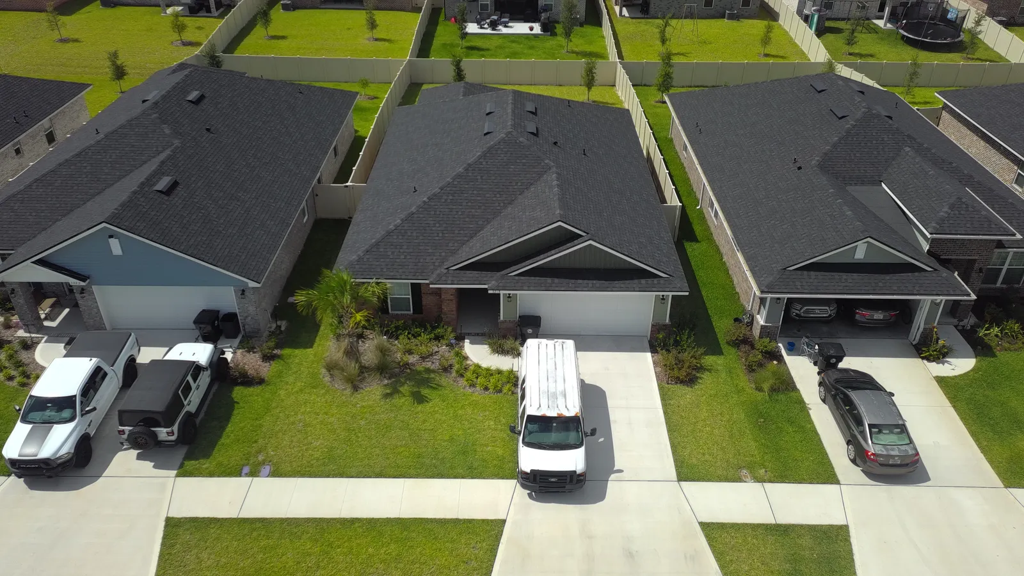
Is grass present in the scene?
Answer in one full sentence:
Yes, there is grass in the image.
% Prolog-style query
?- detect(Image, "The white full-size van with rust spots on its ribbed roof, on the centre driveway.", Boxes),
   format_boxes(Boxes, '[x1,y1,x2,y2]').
[506,339,597,492]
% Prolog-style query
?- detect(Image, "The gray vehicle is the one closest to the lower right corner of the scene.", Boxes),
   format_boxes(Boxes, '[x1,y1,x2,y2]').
[823,374,924,477]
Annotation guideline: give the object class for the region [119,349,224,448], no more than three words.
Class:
car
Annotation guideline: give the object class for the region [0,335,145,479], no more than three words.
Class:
truck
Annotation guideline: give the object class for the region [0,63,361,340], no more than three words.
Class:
house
